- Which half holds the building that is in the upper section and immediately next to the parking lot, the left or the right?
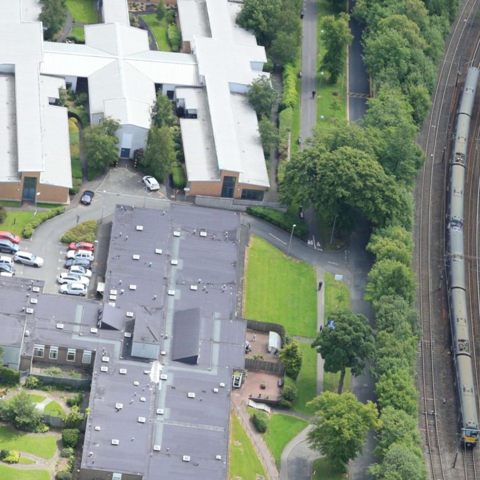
left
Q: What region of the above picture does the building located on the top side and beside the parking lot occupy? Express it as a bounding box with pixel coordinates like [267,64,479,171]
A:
[0,0,271,204]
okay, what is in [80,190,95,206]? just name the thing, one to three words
car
